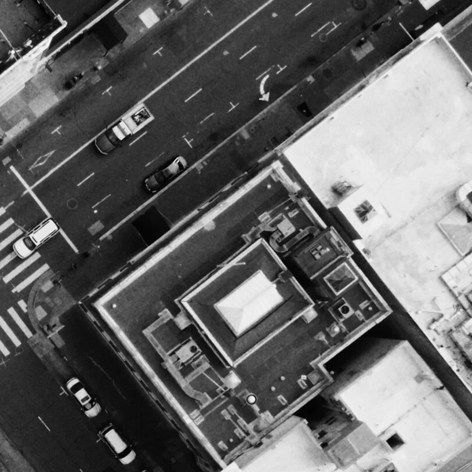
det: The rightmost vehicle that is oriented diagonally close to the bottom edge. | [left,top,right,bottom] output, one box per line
[97,422,135,465]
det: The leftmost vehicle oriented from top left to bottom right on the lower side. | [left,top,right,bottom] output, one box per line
[65,376,100,417]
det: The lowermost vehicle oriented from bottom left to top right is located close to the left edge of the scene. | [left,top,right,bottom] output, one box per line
[12,215,63,260]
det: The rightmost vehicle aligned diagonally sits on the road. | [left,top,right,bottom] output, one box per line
[141,153,188,192]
